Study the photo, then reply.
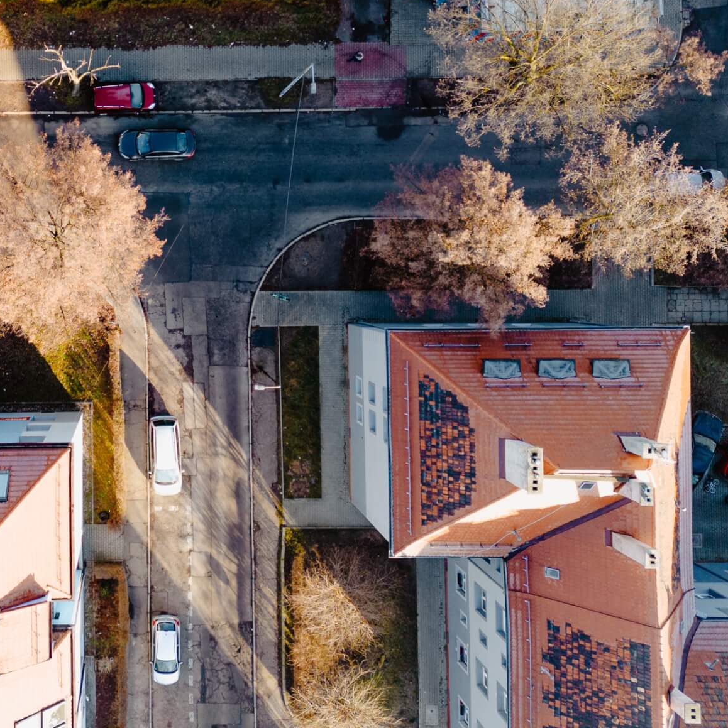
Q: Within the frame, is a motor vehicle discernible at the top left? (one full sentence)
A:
Yes, a motor vehicle shows up at the top left.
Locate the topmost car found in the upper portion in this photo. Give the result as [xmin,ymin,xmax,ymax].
[94,80,157,114]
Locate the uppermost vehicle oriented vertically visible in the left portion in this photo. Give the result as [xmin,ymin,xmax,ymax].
[150,413,185,494]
